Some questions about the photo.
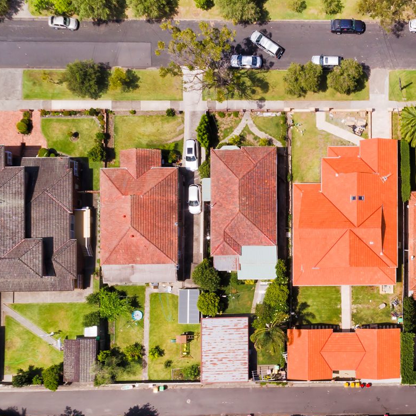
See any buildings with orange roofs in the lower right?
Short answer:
Yes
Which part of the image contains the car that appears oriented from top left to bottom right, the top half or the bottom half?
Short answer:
top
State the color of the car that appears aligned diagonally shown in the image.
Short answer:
white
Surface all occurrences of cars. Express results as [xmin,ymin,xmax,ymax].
[312,54,344,70]
[331,18,366,34]
[251,33,284,59]
[233,55,262,70]
[188,184,203,213]
[48,16,80,31]
[183,138,199,170]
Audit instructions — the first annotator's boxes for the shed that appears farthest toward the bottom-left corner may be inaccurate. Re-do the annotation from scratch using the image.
[64,339,100,383]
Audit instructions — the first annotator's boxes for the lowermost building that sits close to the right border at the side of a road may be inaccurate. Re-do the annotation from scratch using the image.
[286,328,401,382]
